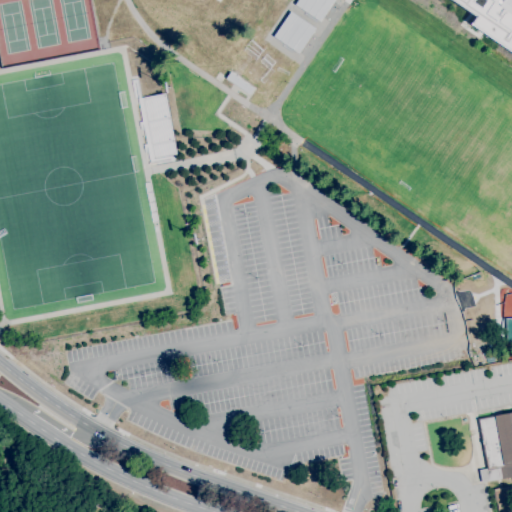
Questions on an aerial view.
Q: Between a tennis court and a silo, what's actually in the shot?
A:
tennis court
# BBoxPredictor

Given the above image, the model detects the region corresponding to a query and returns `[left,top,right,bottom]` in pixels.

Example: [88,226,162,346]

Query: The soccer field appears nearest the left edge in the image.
[0,50,166,320]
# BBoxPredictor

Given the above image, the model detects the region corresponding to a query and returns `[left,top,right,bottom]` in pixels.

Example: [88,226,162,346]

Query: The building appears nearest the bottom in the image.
[480,413,512,482]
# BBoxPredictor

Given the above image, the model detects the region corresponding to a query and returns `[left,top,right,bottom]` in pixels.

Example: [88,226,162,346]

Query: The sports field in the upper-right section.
[284,0,512,274]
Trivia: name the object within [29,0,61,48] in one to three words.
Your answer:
tennis court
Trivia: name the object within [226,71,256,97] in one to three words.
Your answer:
shed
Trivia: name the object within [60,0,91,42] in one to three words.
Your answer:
tennis court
